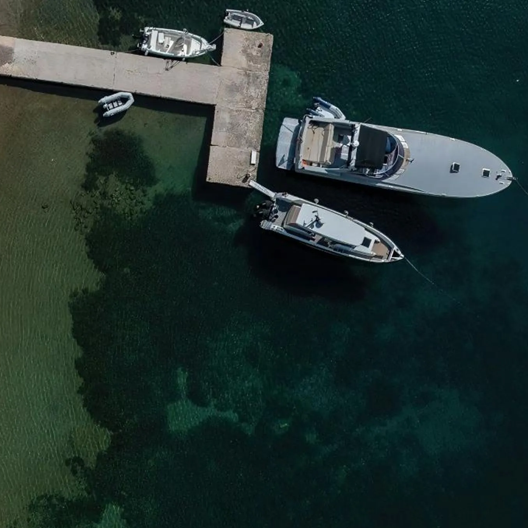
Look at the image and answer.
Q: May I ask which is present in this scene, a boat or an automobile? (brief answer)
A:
boat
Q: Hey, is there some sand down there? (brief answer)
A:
Yes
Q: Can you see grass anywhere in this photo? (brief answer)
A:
No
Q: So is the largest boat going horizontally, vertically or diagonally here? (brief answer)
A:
horizontally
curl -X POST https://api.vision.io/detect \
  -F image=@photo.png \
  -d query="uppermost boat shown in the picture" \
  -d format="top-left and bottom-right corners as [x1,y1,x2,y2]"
[221,8,263,29]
